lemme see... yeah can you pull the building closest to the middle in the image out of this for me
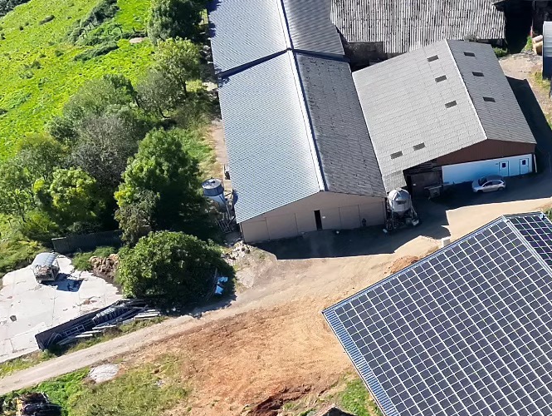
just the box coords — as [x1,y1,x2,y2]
[217,51,385,243]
